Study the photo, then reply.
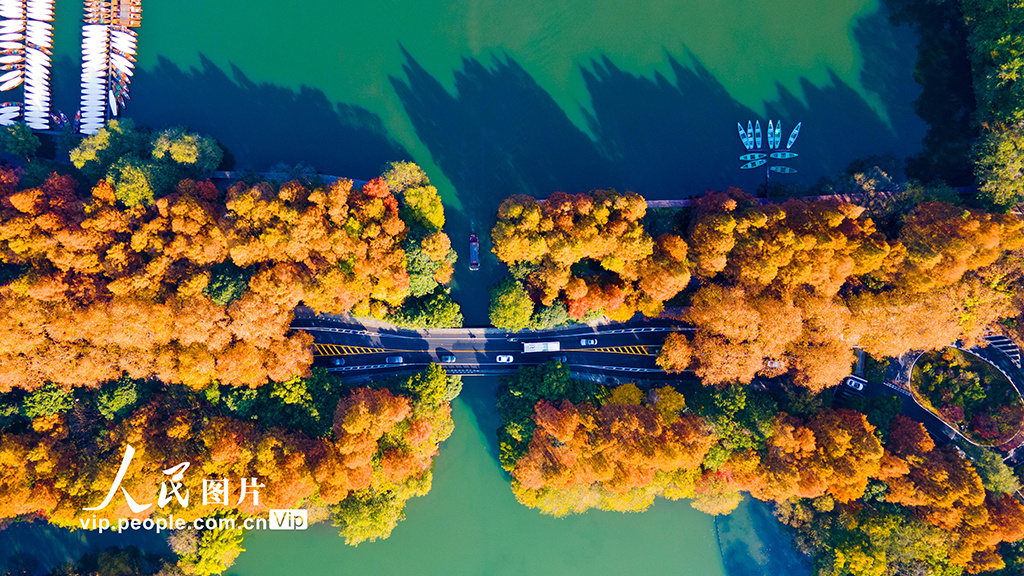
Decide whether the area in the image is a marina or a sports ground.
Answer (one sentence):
The area seen from above is a marina.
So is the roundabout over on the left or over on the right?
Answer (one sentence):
The roundabout sits on the right side.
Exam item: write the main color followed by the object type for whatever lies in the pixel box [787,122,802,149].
blue boat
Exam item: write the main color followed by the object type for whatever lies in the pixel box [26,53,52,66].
white boat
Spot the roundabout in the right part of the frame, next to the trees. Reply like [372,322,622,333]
[909,345,1024,447]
